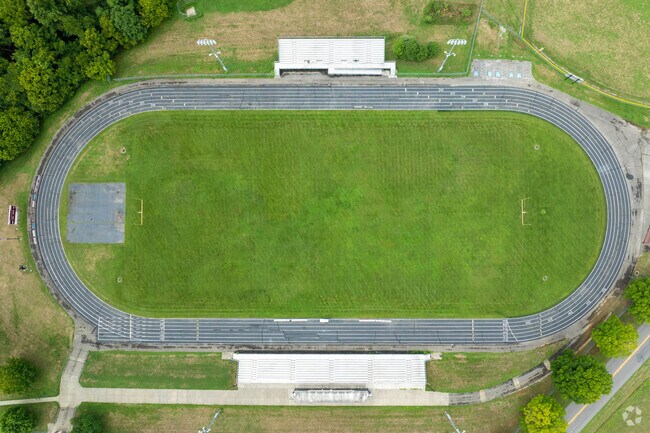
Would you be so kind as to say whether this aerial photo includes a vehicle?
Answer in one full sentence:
No, there's no vehicle here.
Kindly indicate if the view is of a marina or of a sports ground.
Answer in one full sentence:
This looks like a sports ground.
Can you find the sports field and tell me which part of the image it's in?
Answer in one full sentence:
The sports field is located in the center region of the scene.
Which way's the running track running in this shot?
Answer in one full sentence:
From this overhead view, the running track appears to run horizontally.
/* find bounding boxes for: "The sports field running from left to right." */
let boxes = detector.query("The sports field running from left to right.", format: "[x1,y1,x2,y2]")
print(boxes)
[59,110,607,318]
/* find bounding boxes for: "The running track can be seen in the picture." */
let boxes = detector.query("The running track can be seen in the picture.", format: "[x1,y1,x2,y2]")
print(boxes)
[34,86,632,345]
